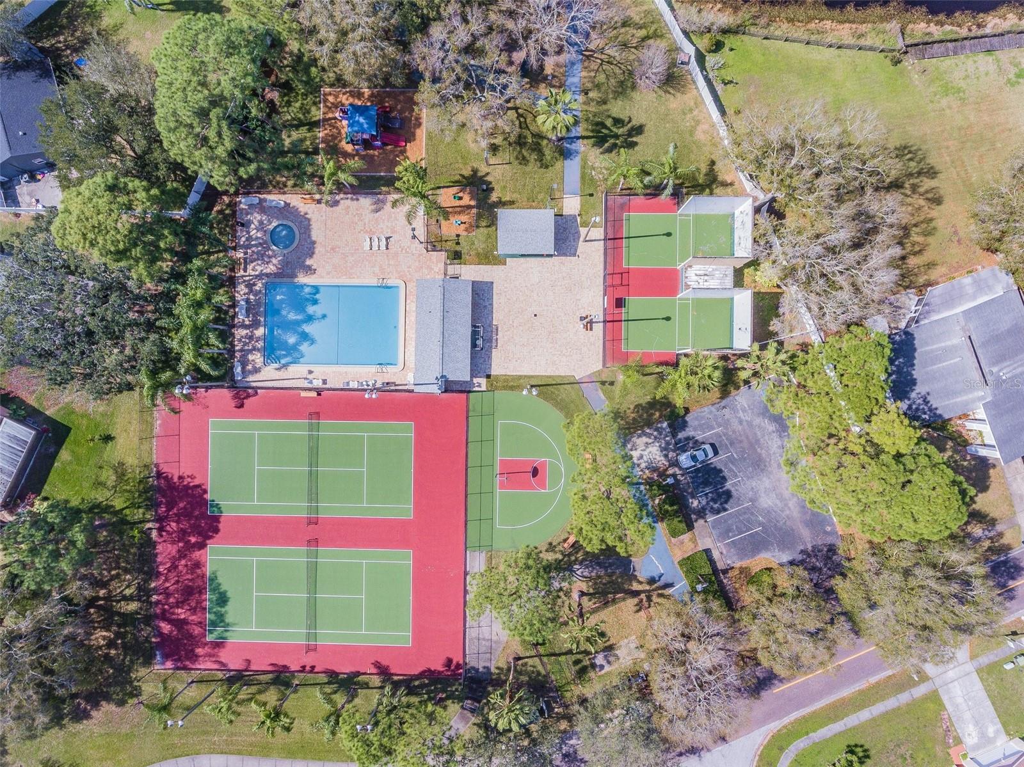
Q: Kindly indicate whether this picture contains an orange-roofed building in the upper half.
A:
No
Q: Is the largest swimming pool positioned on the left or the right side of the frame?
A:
left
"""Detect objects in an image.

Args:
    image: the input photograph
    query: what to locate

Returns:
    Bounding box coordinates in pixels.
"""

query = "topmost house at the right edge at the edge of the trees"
[888,267,1024,465]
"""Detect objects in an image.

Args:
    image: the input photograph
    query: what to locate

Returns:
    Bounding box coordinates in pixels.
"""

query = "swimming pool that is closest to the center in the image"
[263,276,405,371]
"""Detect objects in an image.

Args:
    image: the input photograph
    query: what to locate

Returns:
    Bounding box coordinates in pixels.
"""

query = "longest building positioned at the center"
[414,279,472,392]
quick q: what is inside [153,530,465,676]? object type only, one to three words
tennis court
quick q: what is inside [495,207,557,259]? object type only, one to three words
building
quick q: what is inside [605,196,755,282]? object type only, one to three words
sports court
